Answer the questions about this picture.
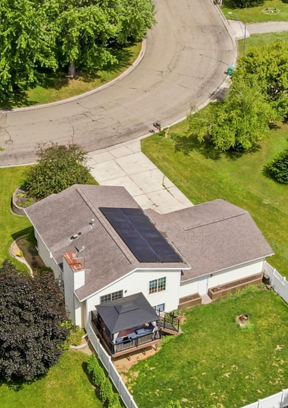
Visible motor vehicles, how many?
zero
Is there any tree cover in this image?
Yes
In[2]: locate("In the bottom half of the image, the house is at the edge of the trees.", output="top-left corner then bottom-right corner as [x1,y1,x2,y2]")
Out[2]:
[24,182,276,348]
